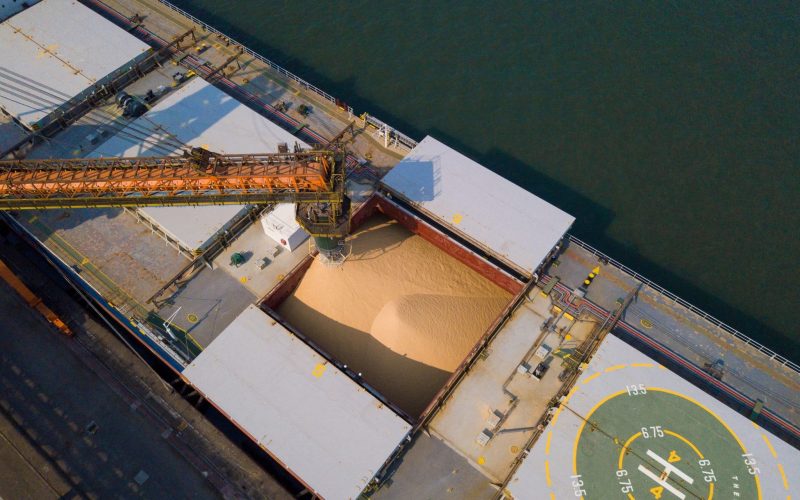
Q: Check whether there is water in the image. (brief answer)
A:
Yes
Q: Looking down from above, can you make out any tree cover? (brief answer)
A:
No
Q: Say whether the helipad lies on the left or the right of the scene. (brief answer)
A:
right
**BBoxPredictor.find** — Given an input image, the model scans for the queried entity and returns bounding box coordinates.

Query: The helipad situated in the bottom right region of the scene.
[545,363,790,500]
